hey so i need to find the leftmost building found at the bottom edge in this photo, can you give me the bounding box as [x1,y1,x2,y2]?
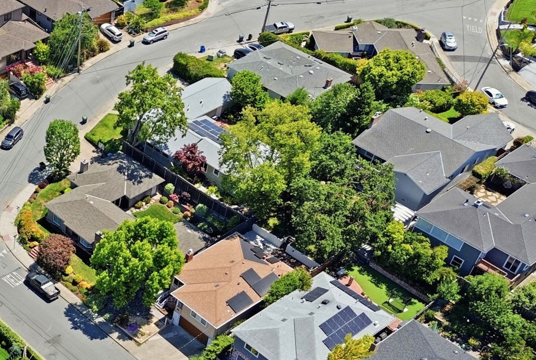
[168,235,296,348]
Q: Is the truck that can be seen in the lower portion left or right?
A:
left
